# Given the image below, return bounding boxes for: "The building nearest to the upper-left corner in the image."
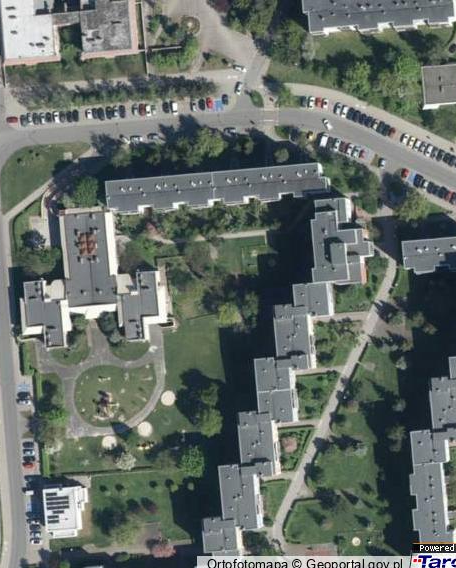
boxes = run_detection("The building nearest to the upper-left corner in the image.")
[2,0,142,69]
